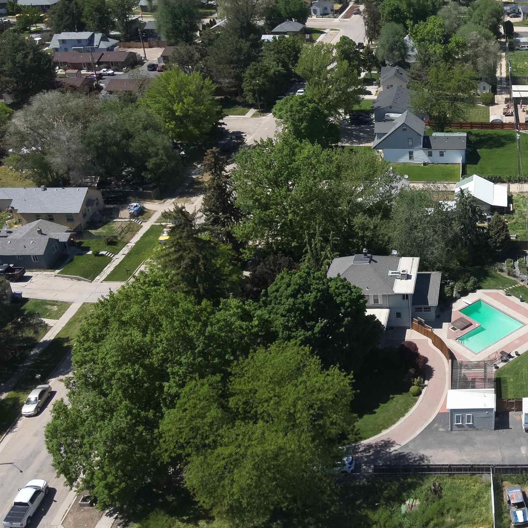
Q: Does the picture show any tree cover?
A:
Yes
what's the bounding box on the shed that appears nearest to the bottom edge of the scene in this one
[447,383,495,426]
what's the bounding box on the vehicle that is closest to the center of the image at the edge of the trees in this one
[157,222,175,242]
